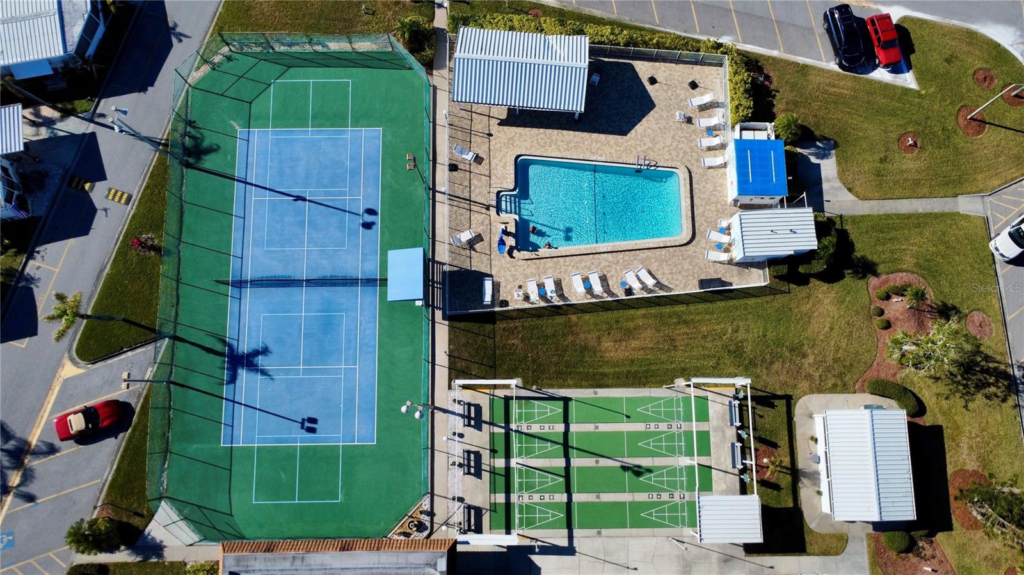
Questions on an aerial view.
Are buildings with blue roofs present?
Yes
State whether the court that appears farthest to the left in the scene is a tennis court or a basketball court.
tennis court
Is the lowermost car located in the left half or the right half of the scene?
left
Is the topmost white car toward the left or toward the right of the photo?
right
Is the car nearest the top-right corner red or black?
red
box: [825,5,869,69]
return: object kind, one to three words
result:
car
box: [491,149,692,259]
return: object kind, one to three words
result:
swimming pool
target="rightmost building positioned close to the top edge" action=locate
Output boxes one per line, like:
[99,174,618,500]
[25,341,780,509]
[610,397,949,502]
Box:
[452,26,588,114]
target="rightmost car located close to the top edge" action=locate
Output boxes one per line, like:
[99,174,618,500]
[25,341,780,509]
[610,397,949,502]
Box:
[869,6,910,67]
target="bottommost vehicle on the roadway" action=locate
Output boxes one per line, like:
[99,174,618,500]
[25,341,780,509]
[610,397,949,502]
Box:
[50,403,125,444]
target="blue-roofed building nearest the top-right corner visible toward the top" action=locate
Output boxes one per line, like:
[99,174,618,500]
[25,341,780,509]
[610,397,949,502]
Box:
[725,139,788,205]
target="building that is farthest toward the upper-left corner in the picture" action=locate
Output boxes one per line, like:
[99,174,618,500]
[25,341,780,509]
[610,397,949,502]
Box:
[0,0,108,93]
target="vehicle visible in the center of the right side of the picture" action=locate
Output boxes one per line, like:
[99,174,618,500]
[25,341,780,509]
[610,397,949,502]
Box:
[990,216,1024,265]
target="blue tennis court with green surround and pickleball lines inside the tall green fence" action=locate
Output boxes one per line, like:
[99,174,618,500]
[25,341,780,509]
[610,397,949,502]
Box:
[166,51,430,539]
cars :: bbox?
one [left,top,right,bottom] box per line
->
[990,216,1024,265]
[50,403,125,444]
[825,5,869,69]
[869,6,910,67]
